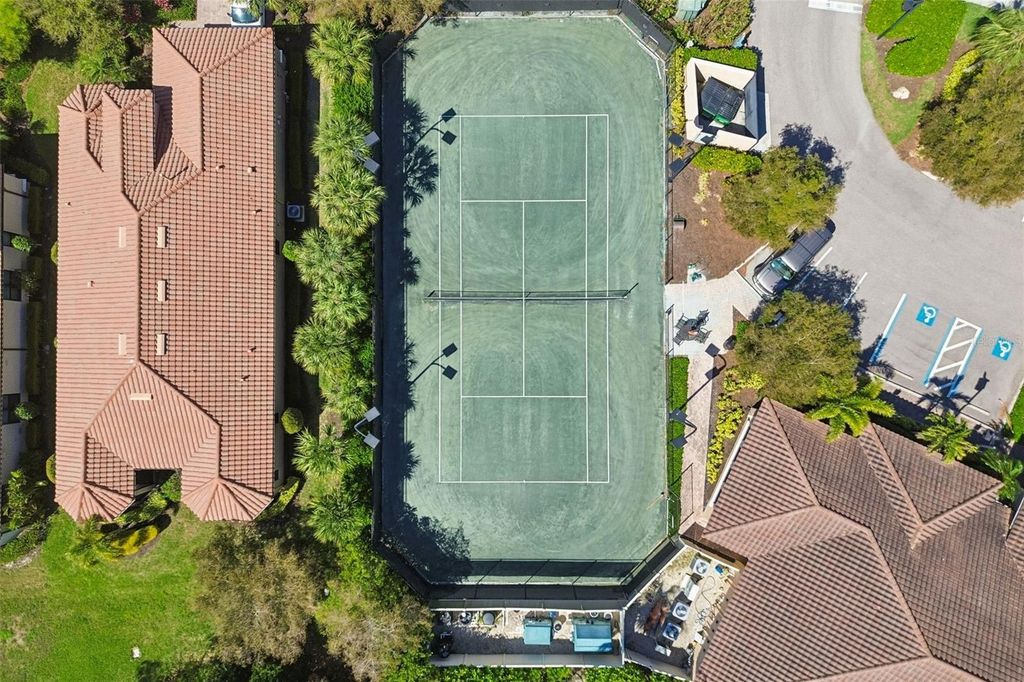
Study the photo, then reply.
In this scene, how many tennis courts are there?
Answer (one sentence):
The photo contains exactly 1 tennis court.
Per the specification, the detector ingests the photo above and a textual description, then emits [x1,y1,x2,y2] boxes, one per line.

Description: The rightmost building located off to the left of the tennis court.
[54,24,286,522]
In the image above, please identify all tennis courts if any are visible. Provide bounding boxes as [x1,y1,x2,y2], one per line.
[382,13,668,585]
